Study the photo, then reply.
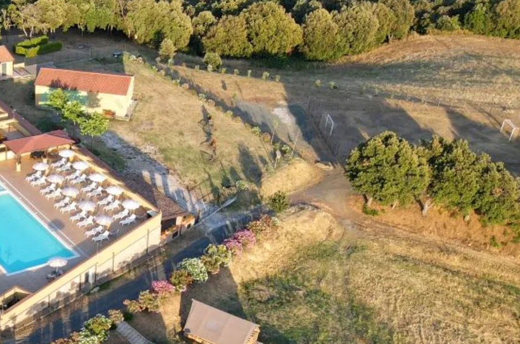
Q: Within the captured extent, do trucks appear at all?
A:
No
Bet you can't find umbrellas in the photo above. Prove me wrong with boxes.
[94,217,113,232]
[47,176,63,185]
[59,151,75,160]
[72,163,89,177]
[122,202,139,225]
[32,165,48,174]
[87,175,105,185]
[61,189,78,204]
[48,258,68,282]
[106,188,123,202]
[77,202,95,225]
